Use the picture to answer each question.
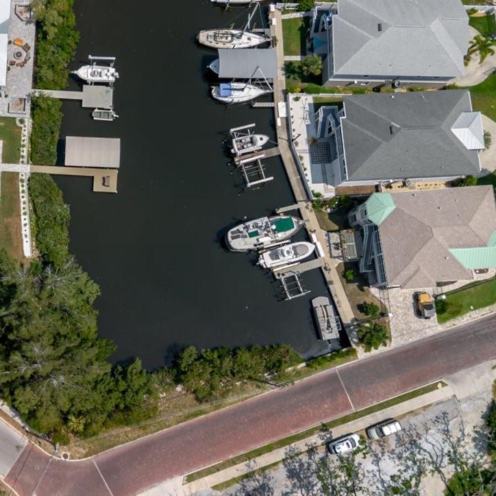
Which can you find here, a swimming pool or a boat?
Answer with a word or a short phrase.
boat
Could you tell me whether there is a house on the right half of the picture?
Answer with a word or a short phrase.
Yes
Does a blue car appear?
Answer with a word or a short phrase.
No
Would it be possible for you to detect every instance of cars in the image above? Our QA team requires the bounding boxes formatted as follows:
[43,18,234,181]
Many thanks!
[327,434,360,454]
[416,291,434,320]
[365,419,402,438]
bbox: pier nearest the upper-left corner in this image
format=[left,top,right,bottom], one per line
[30,84,114,110]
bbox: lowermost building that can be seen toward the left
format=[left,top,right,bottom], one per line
[64,136,120,170]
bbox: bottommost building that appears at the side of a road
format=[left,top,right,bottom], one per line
[347,184,496,314]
